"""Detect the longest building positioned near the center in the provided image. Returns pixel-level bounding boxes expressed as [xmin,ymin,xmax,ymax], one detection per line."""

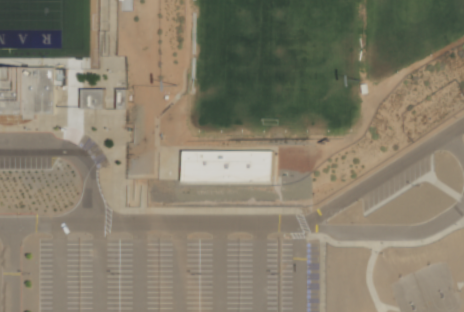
[182,150,275,182]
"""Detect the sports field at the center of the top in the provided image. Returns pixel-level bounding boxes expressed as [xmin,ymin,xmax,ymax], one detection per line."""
[184,0,364,138]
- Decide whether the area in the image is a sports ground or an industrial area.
sports ground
